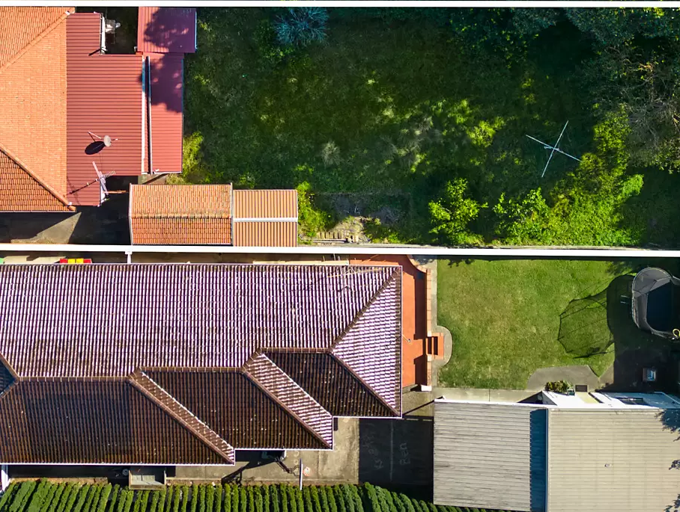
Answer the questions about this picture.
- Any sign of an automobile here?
No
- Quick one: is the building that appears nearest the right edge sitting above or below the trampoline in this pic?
below it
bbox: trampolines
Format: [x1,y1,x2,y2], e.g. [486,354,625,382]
[621,269,680,340]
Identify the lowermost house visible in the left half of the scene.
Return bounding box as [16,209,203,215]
[0,264,404,466]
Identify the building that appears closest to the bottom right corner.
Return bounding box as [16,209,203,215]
[529,390,680,512]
